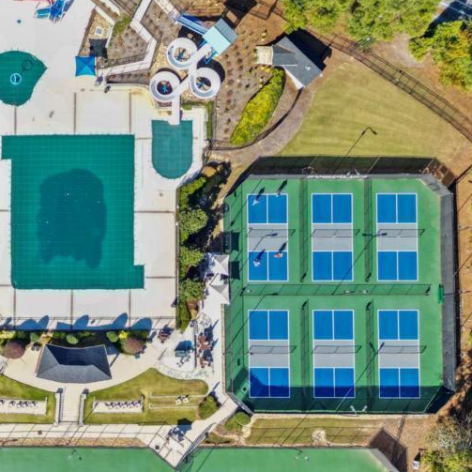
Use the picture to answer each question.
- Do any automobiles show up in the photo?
No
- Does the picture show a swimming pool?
Yes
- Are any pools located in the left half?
Yes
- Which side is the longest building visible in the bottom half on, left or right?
left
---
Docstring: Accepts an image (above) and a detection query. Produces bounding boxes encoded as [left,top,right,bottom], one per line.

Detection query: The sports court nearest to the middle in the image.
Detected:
[248,194,292,282]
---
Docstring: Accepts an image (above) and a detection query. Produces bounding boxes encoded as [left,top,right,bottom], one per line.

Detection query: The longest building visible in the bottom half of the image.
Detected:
[36,344,111,384]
